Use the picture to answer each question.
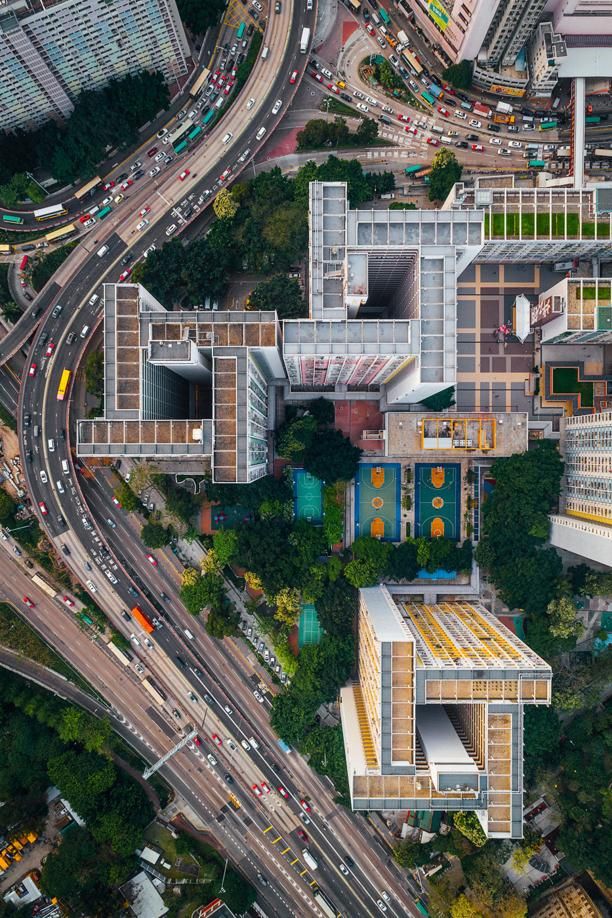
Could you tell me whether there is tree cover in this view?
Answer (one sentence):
Yes, tree cover can be seen from above here.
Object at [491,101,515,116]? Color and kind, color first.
white vehicle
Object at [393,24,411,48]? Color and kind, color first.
white vehicle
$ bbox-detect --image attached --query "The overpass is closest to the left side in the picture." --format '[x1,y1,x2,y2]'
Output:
[15,0,403,918]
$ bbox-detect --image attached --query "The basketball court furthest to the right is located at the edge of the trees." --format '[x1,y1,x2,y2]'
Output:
[415,463,461,541]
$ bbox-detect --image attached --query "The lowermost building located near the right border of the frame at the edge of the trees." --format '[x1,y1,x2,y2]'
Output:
[521,867,603,918]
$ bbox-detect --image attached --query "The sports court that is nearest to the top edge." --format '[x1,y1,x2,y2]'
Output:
[334,400,383,456]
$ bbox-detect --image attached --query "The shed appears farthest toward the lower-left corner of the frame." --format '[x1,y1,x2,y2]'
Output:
[4,870,47,910]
